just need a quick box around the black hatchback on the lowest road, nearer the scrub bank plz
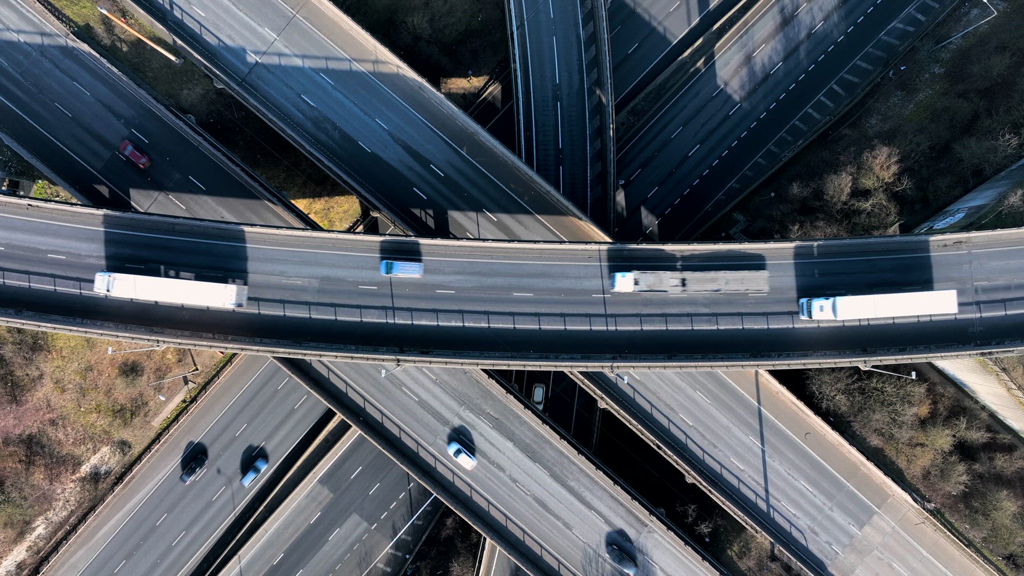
[178,455,208,485]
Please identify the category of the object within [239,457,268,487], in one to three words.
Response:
car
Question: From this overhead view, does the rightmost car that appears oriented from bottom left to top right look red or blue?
blue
